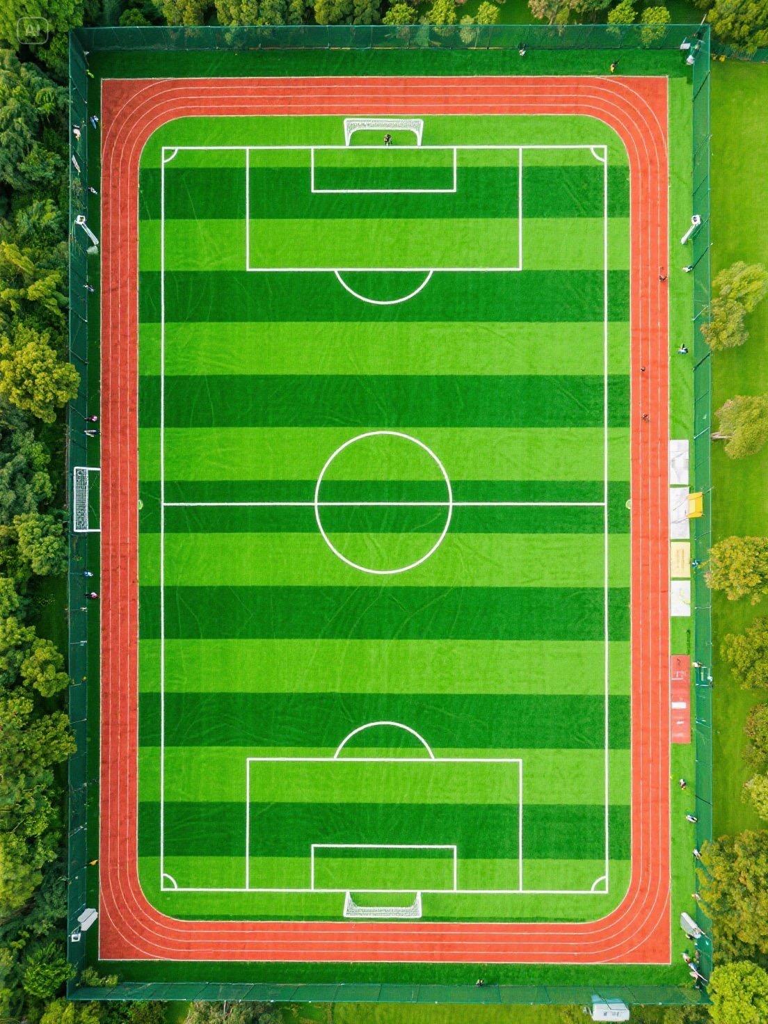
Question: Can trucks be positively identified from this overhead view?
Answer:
No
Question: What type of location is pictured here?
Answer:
sports ground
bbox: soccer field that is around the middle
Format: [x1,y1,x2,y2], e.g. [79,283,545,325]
[137,115,630,921]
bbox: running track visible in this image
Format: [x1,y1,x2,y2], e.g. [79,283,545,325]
[98,76,671,964]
